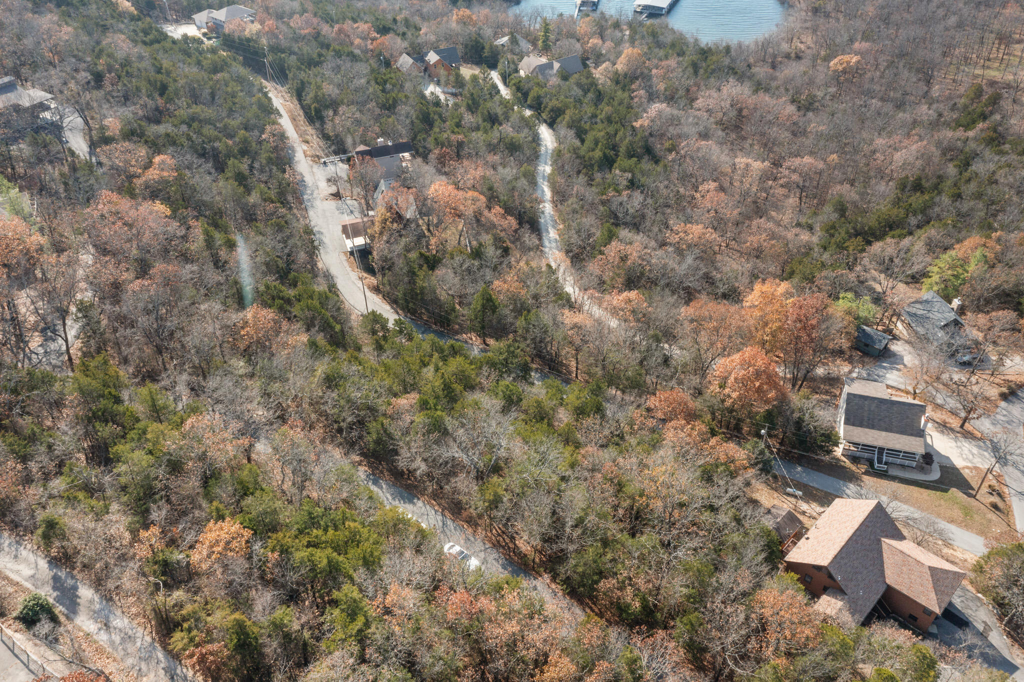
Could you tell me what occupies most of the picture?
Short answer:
trees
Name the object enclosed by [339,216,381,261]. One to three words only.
building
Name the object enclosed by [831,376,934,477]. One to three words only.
house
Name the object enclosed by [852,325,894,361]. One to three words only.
shed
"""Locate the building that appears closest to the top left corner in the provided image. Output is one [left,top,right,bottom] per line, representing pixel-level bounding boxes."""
[0,73,64,130]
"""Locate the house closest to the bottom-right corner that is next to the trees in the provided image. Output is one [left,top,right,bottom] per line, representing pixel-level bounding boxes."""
[768,496,965,668]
